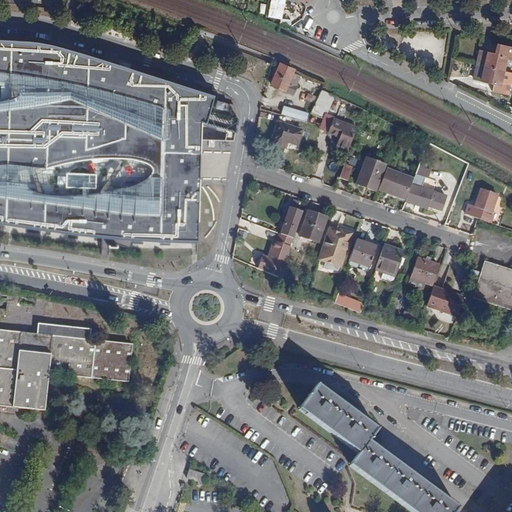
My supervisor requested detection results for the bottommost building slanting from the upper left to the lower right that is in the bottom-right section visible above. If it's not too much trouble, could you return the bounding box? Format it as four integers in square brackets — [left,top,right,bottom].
[354,440,468,512]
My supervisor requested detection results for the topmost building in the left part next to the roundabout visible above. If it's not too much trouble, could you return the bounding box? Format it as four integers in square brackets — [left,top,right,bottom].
[0,40,215,244]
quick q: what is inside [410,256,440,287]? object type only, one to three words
house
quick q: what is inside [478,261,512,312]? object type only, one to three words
building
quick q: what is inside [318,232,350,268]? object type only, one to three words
house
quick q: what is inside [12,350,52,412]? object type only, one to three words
building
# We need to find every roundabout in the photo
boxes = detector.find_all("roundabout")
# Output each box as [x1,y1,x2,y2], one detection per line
[170,271,243,344]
